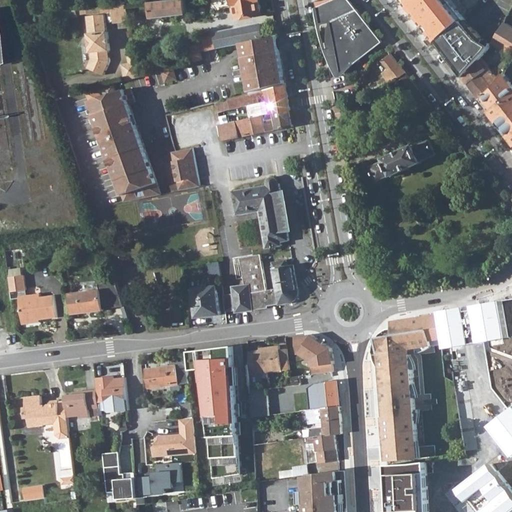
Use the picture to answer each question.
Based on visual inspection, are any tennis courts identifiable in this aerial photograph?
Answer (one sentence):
No, there isn't any tennis court down there.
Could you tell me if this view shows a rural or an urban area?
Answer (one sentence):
This place is urban.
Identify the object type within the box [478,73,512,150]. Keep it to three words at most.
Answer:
building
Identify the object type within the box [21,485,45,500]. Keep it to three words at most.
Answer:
shed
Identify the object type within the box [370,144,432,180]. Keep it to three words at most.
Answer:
house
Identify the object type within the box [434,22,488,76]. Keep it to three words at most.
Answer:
building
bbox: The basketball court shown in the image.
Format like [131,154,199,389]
[138,190,206,232]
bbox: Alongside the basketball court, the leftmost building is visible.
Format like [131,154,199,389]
[84,88,162,206]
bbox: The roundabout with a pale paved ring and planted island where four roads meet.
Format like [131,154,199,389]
[320,281,380,343]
